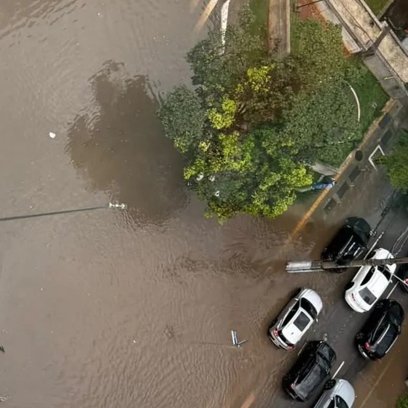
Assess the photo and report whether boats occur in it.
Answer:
No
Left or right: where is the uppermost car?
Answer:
right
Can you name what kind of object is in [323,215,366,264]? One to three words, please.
car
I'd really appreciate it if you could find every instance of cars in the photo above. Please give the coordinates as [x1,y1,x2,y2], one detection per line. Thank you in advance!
[268,288,319,352]
[323,215,366,264]
[316,382,352,408]
[358,302,402,361]
[347,251,390,311]
[285,340,335,404]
